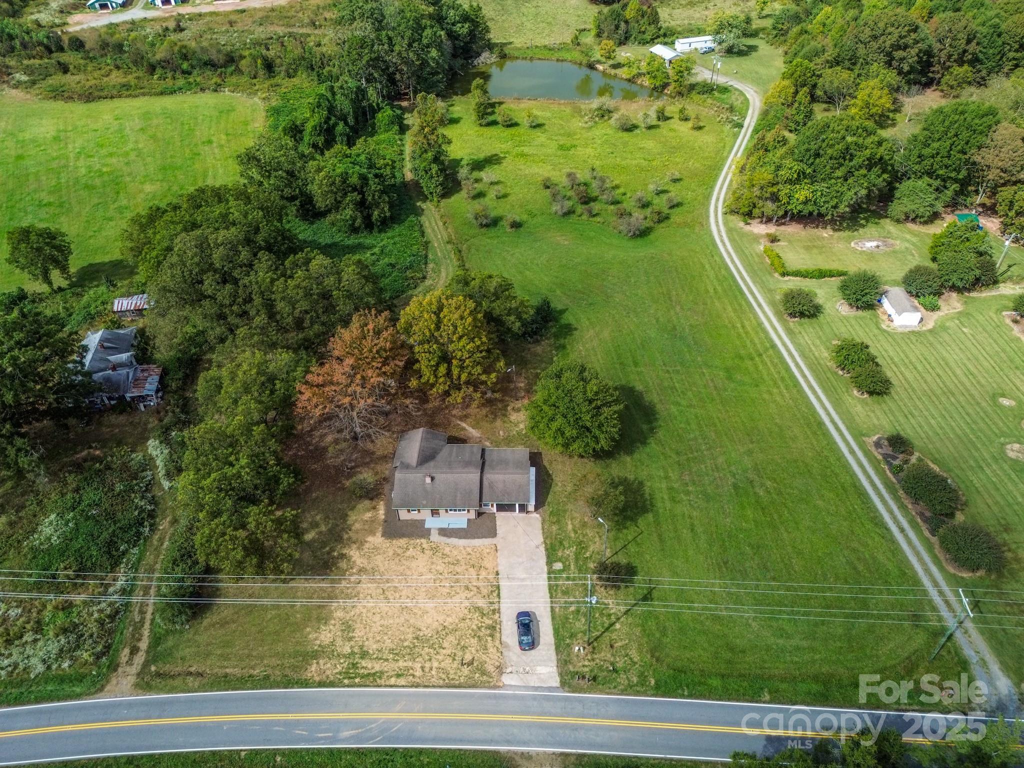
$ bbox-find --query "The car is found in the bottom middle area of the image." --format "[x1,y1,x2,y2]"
[514,610,535,651]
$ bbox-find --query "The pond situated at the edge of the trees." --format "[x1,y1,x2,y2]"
[452,60,664,101]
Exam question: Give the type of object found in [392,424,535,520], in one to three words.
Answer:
house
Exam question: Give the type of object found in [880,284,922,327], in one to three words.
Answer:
shed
